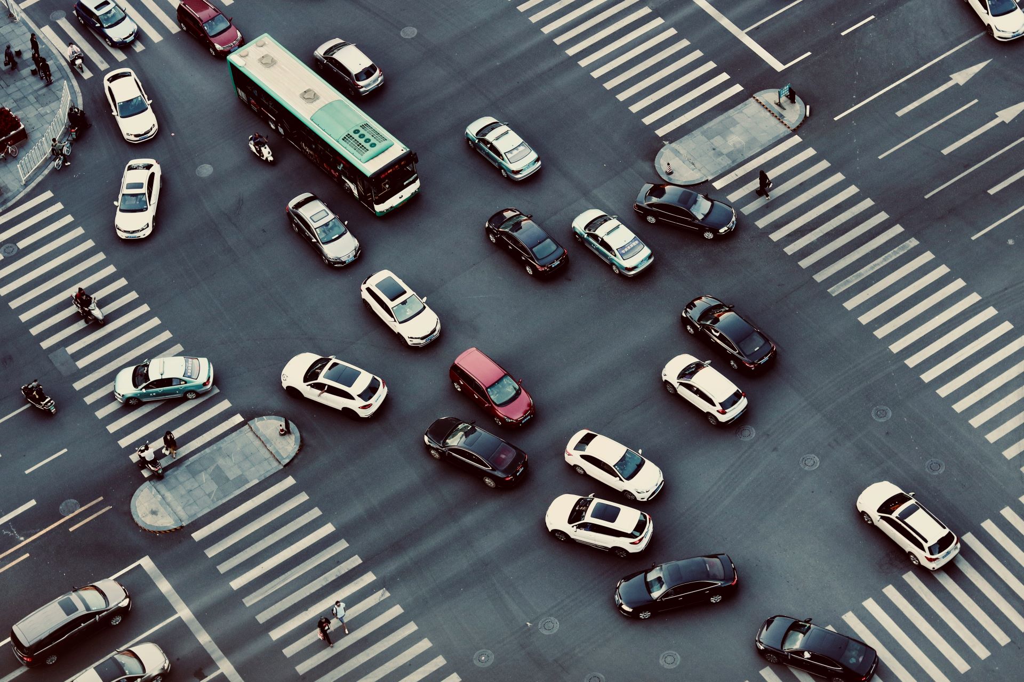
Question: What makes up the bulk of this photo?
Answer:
paved ground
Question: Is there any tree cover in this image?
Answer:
No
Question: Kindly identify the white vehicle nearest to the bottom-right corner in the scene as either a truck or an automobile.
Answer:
automobile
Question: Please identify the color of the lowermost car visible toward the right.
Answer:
black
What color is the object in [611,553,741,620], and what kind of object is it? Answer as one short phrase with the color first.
black car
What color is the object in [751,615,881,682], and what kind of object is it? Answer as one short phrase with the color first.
black car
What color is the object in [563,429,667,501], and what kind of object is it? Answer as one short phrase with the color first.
white car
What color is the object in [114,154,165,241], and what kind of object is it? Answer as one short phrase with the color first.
white car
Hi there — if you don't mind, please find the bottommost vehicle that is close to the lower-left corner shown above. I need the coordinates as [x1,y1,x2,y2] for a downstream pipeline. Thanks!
[68,639,173,682]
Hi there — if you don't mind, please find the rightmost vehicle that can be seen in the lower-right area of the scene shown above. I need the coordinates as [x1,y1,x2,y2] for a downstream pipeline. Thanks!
[856,481,962,573]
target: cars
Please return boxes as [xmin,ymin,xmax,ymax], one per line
[751,615,881,682]
[483,206,572,281]
[542,491,655,558]
[284,189,364,270]
[572,208,655,279]
[611,553,741,620]
[105,68,159,146]
[110,356,217,406]
[563,429,667,501]
[69,0,141,47]
[464,115,541,182]
[358,269,441,348]
[7,579,134,670]
[446,345,536,429]
[680,296,778,376]
[964,0,1024,43]
[282,352,390,419]
[172,0,246,58]
[631,181,740,240]
[114,154,165,241]
[856,481,962,573]
[661,355,752,427]
[68,639,173,682]
[315,38,385,98]
[421,417,531,489]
